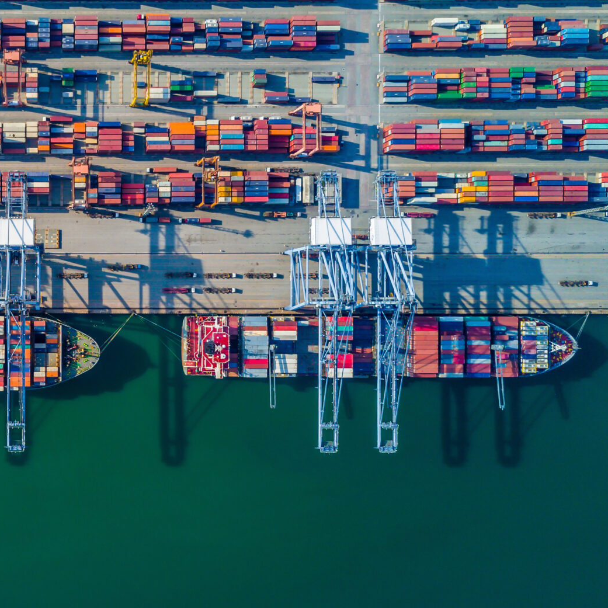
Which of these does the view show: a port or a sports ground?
port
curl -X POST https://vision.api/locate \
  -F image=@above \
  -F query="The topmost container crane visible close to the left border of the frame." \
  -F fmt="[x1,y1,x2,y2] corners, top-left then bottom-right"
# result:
[1,42,25,105]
